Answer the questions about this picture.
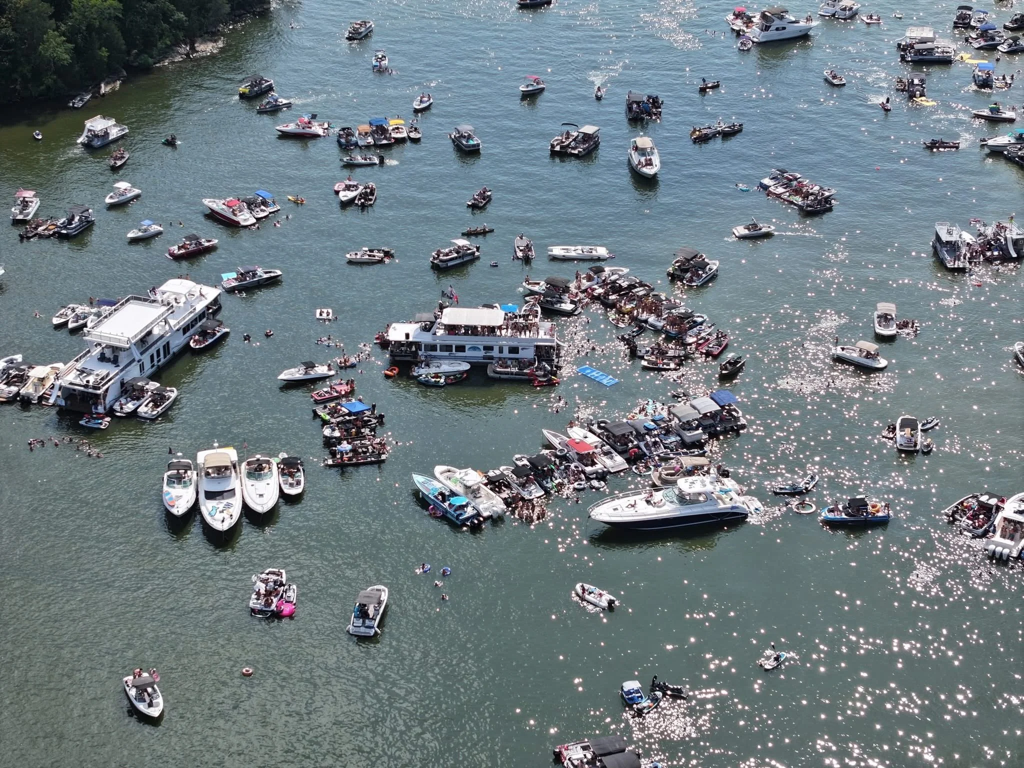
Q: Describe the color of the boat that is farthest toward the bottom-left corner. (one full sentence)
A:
From above, the boat that is farthest toward the bottom-left corner appears white.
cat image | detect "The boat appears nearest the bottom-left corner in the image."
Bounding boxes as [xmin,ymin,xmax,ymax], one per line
[121,670,163,717]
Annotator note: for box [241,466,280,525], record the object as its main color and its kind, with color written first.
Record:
white boat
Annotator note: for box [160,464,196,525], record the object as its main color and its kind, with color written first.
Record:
white boat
